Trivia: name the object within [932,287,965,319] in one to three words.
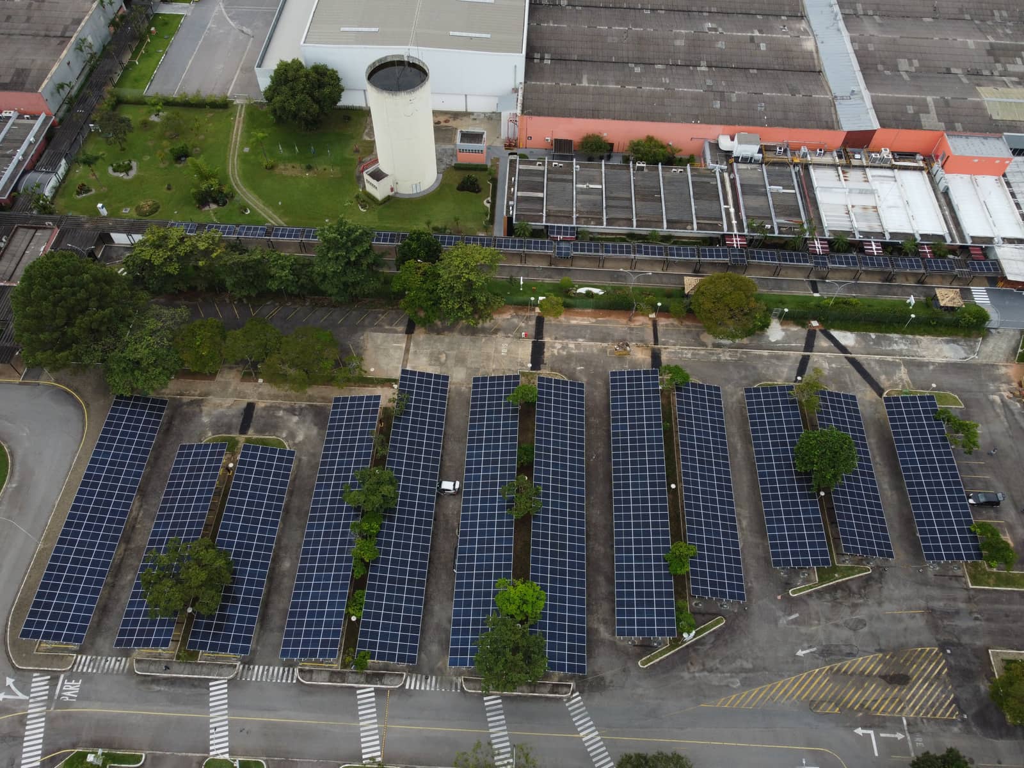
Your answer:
gazebo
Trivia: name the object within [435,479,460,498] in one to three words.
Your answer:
car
